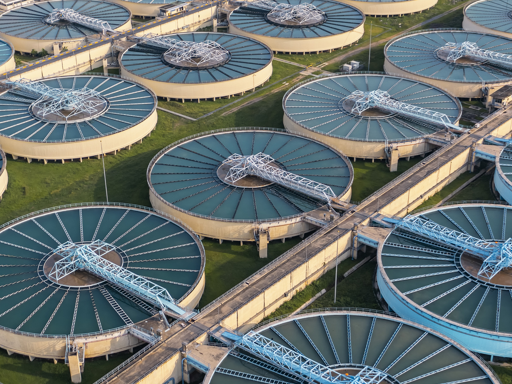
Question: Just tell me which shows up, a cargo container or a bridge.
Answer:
bridge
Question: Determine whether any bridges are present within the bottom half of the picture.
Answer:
Yes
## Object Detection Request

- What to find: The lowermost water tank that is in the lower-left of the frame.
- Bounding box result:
[0,202,206,384]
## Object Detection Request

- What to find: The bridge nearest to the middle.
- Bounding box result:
[249,156,350,208]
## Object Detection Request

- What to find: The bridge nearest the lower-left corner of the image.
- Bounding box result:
[78,246,188,317]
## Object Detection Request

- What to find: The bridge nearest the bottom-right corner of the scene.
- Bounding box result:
[380,215,502,261]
